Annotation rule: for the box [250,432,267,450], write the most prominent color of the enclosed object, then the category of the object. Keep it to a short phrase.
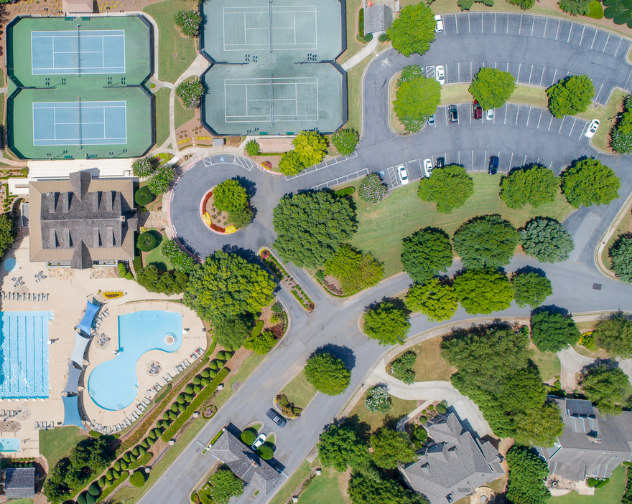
white car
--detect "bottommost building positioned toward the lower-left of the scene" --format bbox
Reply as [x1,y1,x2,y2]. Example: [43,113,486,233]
[0,465,36,499]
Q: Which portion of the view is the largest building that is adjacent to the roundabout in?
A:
left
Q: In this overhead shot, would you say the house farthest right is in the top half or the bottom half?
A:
bottom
